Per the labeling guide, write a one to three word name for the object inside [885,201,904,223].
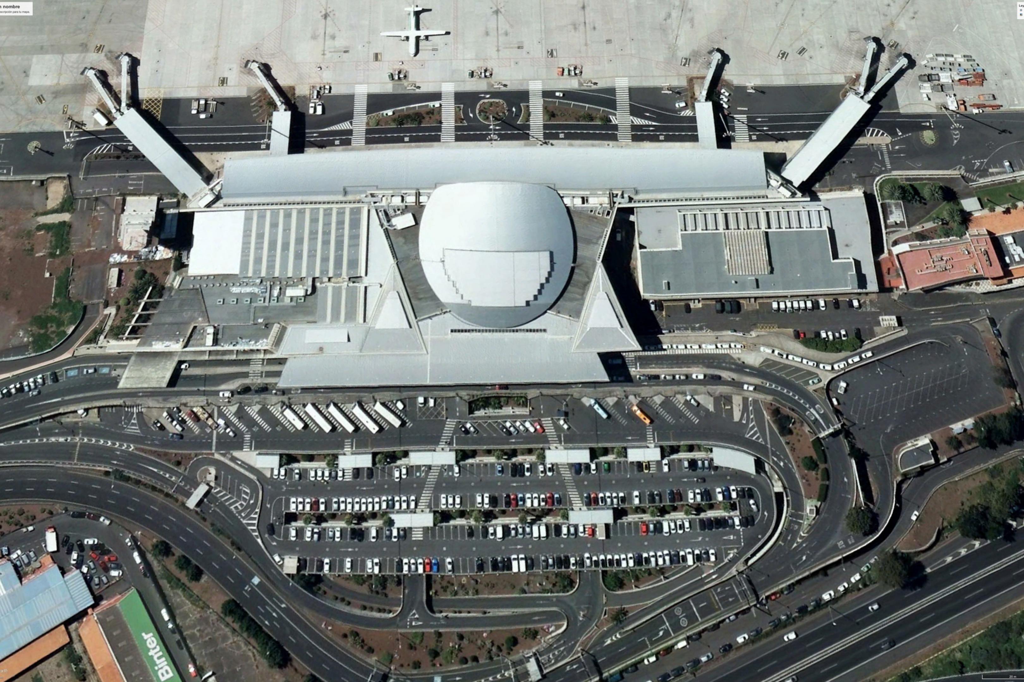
shed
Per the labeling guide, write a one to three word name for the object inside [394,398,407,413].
vehicle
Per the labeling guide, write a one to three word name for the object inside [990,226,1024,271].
building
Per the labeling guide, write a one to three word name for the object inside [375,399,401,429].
bus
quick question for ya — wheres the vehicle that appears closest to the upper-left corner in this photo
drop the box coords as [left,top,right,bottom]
[93,109,109,126]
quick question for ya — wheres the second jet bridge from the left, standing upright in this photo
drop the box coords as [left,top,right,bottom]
[112,47,135,112]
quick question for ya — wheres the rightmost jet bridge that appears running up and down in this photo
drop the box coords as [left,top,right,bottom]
[855,31,878,93]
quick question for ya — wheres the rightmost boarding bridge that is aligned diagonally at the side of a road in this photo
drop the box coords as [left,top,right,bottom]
[860,46,909,101]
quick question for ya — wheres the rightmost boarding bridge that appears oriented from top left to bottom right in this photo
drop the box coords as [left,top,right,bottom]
[239,53,288,111]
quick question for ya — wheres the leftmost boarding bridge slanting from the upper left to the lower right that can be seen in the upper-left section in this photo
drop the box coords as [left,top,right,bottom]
[77,63,123,118]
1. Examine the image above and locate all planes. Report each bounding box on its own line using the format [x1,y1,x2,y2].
[381,6,446,56]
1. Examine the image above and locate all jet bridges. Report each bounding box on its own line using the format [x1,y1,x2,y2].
[855,31,878,93]
[860,46,909,101]
[77,63,123,118]
[698,43,723,101]
[239,53,288,111]
[112,47,135,112]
